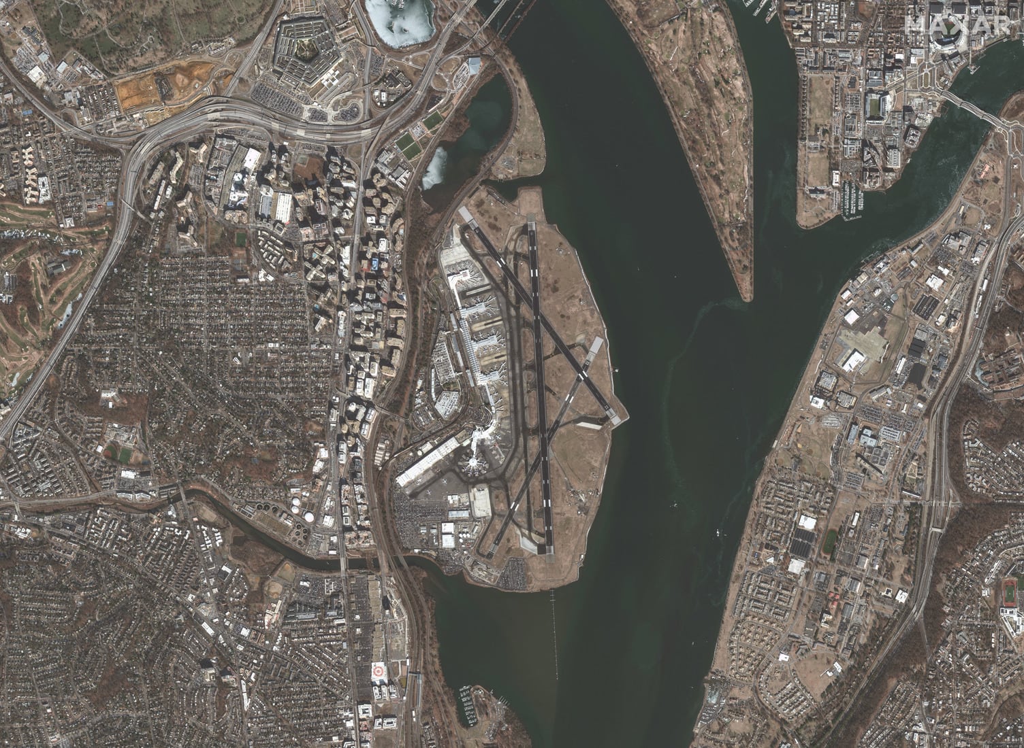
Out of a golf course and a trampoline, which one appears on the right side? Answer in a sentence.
You can see a golf course on the right side.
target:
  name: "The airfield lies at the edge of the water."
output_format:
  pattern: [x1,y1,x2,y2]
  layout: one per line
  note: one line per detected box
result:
[402,186,629,590]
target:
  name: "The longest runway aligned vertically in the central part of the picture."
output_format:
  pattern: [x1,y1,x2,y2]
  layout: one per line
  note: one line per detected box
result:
[528,213,554,563]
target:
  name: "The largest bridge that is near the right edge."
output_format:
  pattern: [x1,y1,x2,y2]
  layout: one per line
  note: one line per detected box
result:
[930,83,1002,127]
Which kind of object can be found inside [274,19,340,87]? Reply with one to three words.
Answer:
building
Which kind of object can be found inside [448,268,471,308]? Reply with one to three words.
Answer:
building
